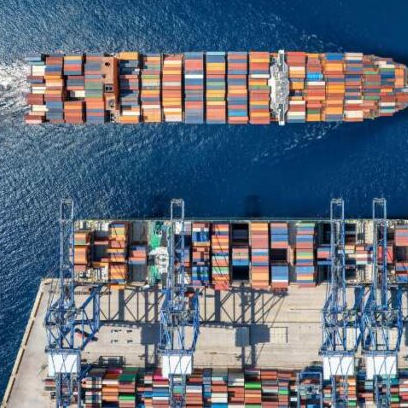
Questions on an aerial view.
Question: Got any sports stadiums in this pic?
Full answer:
No, there isn't any sports stadium down there.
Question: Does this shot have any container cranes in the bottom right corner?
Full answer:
Yes, a container crane appears in the bottom right corner.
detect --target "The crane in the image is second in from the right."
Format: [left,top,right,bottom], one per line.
[315,201,372,404]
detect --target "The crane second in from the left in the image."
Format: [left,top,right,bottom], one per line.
[148,201,225,404]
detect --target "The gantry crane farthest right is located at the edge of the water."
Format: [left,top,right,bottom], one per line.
[358,201,408,404]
